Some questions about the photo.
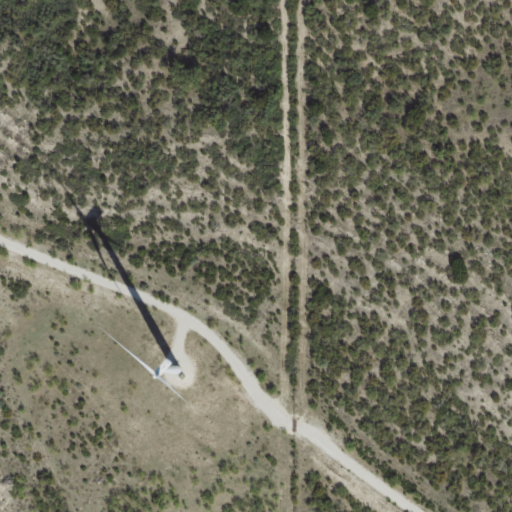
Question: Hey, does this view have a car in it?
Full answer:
No, the photo shows no car.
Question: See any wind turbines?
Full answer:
Yes, the frame does contain a wind turbine.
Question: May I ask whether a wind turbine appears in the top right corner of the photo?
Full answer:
No, no wind turbine appears in the top right corner of the photo.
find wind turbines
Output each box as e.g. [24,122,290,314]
[100,326,188,403]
